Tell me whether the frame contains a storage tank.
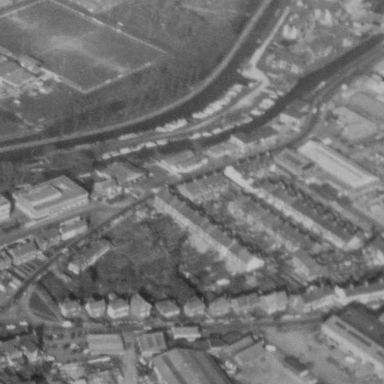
No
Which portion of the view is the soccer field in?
top left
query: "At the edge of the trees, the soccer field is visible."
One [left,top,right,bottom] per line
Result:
[0,0,162,91]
